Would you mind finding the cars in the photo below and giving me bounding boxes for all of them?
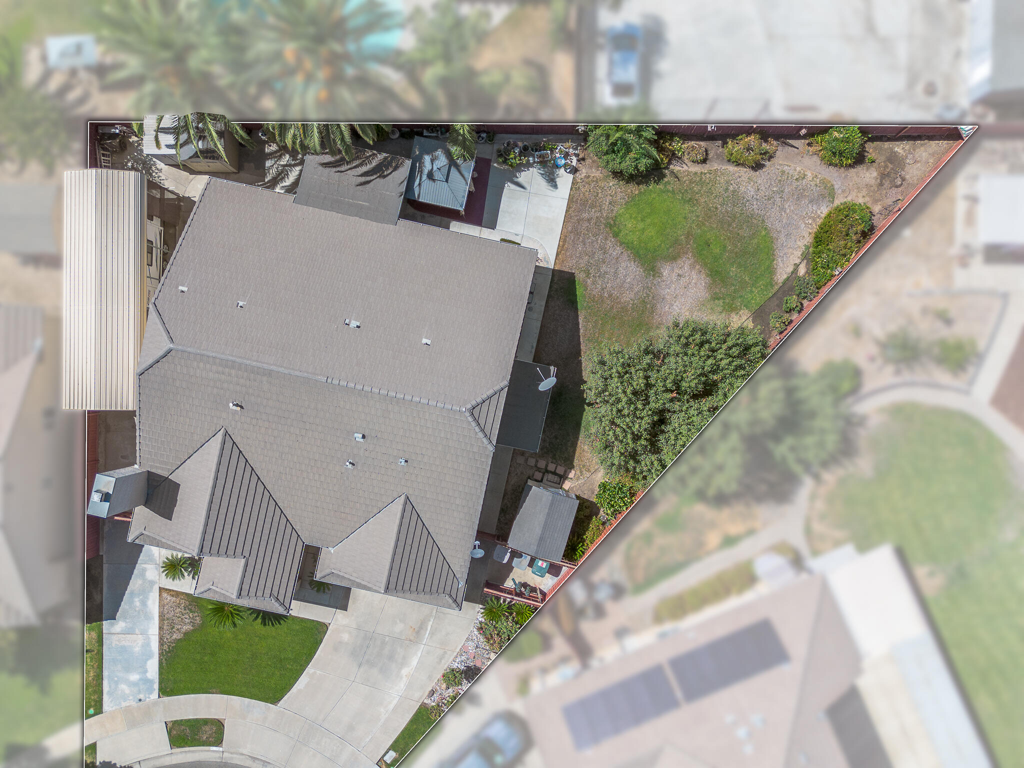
[602,24,645,111]
[436,708,528,768]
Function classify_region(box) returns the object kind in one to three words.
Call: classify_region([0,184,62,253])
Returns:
shed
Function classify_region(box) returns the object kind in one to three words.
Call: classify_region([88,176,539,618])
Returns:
house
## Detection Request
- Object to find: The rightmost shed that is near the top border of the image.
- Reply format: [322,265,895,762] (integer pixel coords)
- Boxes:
[953,0,1024,113]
